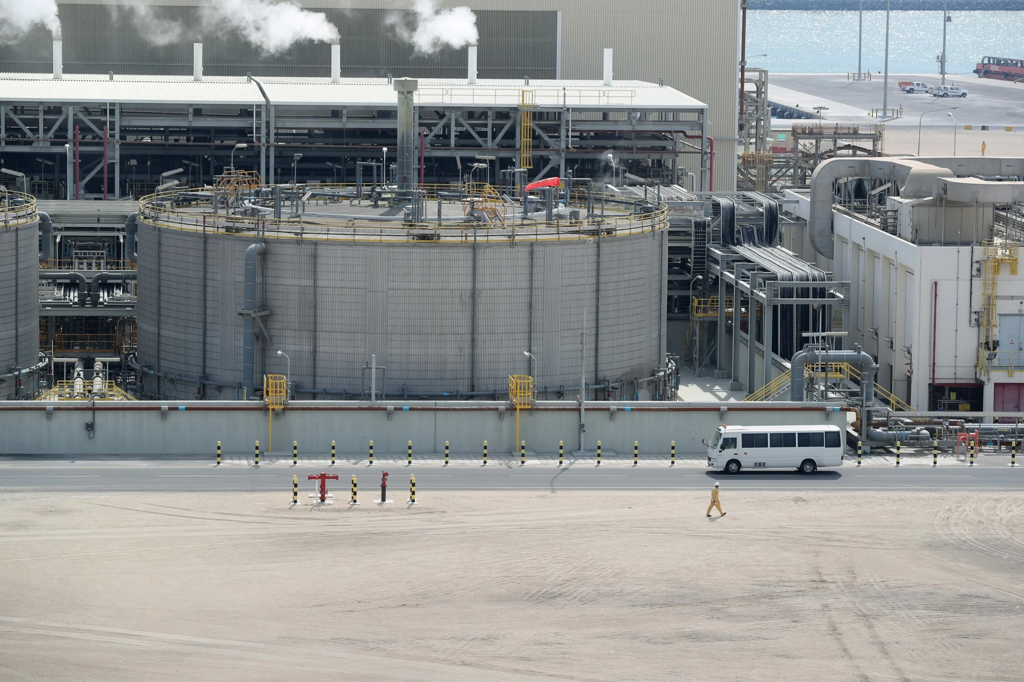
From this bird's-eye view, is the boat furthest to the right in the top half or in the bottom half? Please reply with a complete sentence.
Seen from above, the boat furthest to the right lies in the top half of the view.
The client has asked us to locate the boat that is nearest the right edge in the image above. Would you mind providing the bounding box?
[974,48,1024,89]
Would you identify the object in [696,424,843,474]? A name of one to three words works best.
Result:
vehicle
